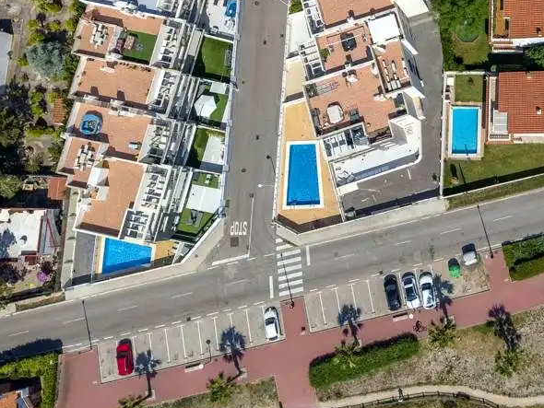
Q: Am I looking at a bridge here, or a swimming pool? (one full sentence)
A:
The one in the frame is a swimming pool.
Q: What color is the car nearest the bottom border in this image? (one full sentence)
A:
The color of the car nearest the bottom border is red.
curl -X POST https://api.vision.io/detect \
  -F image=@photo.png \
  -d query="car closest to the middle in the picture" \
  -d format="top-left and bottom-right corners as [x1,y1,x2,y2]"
[259,305,281,346]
